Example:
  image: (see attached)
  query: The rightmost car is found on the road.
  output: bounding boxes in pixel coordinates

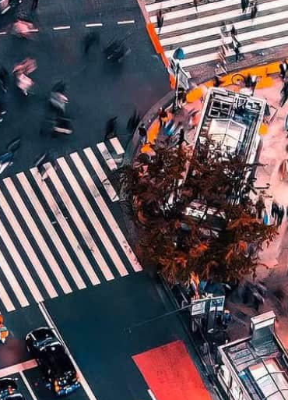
[24,317,83,392]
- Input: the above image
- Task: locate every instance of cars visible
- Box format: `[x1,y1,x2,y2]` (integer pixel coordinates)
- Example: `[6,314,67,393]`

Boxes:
[0,366,30,400]
[24,317,83,392]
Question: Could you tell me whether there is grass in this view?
No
